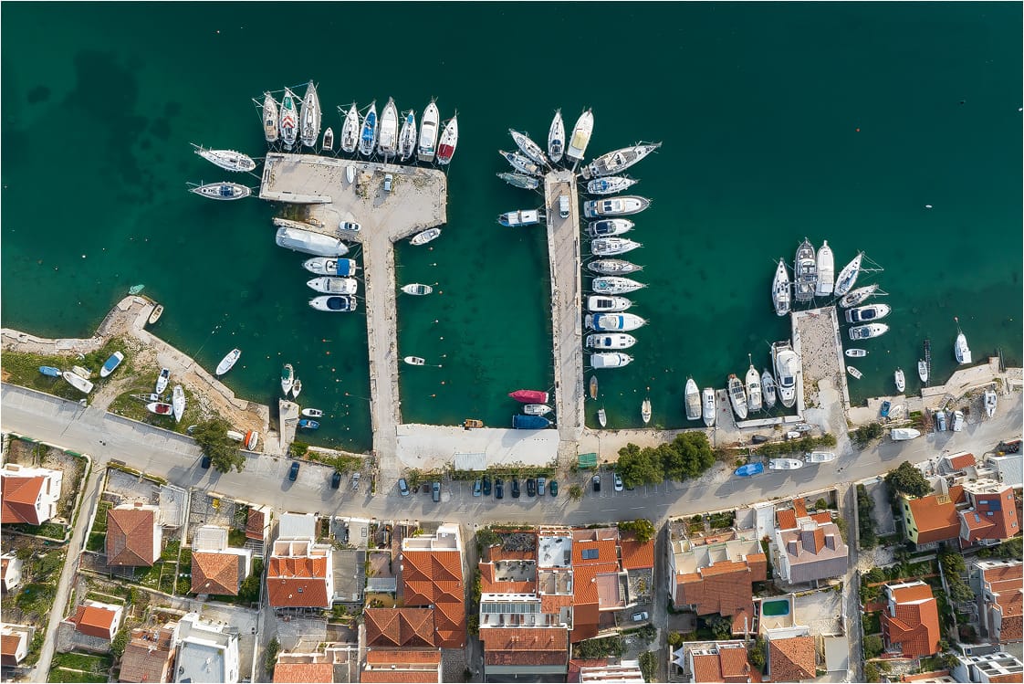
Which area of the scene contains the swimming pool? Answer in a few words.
bottom right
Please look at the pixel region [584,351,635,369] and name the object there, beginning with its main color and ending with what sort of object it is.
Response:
white boat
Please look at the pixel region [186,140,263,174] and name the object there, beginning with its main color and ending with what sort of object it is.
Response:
white boat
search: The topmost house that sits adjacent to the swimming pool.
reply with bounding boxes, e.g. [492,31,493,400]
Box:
[774,497,847,584]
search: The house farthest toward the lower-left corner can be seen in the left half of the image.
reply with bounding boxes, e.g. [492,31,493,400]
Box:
[0,620,35,664]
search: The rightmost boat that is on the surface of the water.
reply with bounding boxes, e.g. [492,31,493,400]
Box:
[956,334,975,364]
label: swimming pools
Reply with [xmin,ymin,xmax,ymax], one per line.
[759,592,792,632]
